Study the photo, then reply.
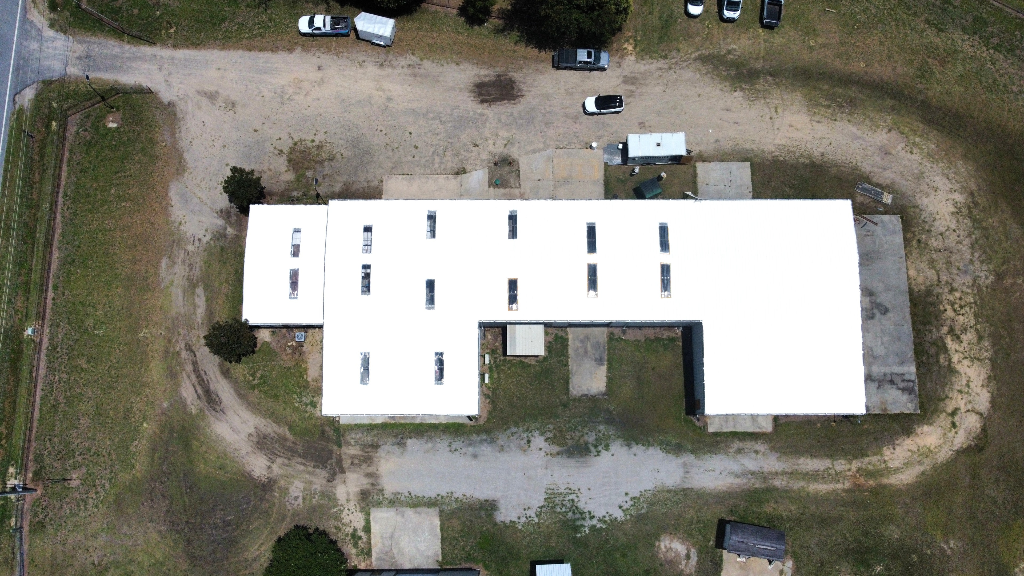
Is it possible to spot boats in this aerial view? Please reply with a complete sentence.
No, there isn't any boat down there.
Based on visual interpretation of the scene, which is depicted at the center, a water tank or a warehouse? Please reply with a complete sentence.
The one visible at the center is a warehouse.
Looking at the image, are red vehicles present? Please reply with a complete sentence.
No, no red vehicle is visible in the view.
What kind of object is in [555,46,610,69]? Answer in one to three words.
truck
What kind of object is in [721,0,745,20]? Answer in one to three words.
vehicle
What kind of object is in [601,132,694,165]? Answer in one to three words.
trailer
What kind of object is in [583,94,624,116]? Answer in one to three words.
car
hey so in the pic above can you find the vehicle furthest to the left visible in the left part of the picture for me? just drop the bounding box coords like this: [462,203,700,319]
[298,14,353,37]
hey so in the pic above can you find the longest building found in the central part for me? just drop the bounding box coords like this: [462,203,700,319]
[242,199,867,424]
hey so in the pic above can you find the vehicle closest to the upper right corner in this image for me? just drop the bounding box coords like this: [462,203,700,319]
[761,0,783,27]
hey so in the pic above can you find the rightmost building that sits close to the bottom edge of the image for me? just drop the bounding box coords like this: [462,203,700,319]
[723,521,786,563]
